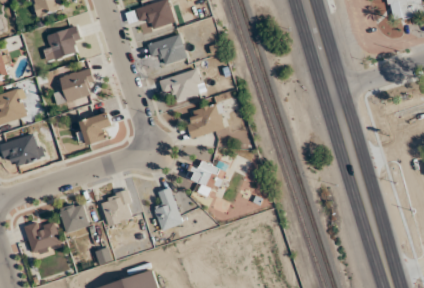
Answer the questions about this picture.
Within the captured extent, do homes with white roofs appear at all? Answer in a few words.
Yes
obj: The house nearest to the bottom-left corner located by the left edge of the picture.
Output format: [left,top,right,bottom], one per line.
[21,217,60,250]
